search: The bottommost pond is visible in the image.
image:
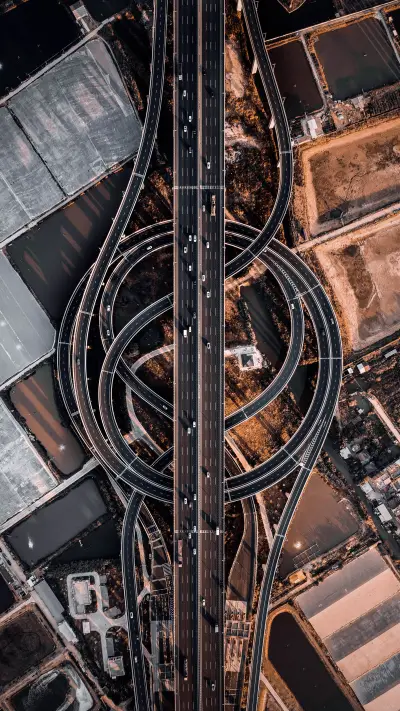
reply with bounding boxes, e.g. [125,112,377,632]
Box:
[271,614,358,711]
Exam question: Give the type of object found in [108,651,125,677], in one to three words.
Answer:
building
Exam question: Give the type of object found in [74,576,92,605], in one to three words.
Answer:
building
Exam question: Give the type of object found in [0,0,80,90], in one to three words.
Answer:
pond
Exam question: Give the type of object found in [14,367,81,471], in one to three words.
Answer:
pond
